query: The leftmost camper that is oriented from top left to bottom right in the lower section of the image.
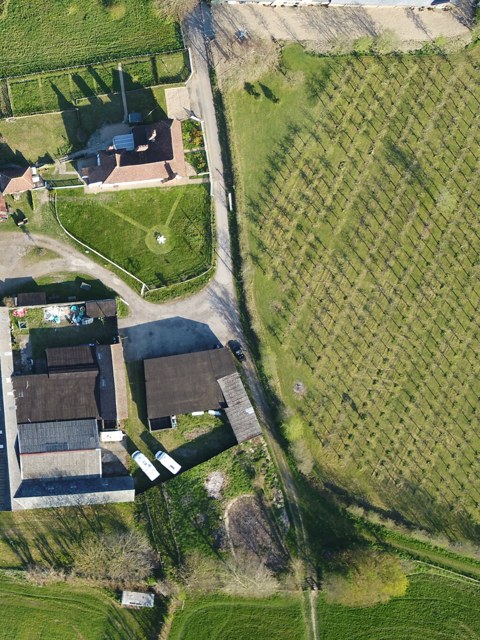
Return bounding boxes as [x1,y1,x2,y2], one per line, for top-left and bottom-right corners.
[129,448,158,483]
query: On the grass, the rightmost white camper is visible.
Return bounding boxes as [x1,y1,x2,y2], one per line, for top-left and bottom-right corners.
[153,447,180,476]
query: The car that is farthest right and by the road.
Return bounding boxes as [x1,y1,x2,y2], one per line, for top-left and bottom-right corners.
[229,342,245,363]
